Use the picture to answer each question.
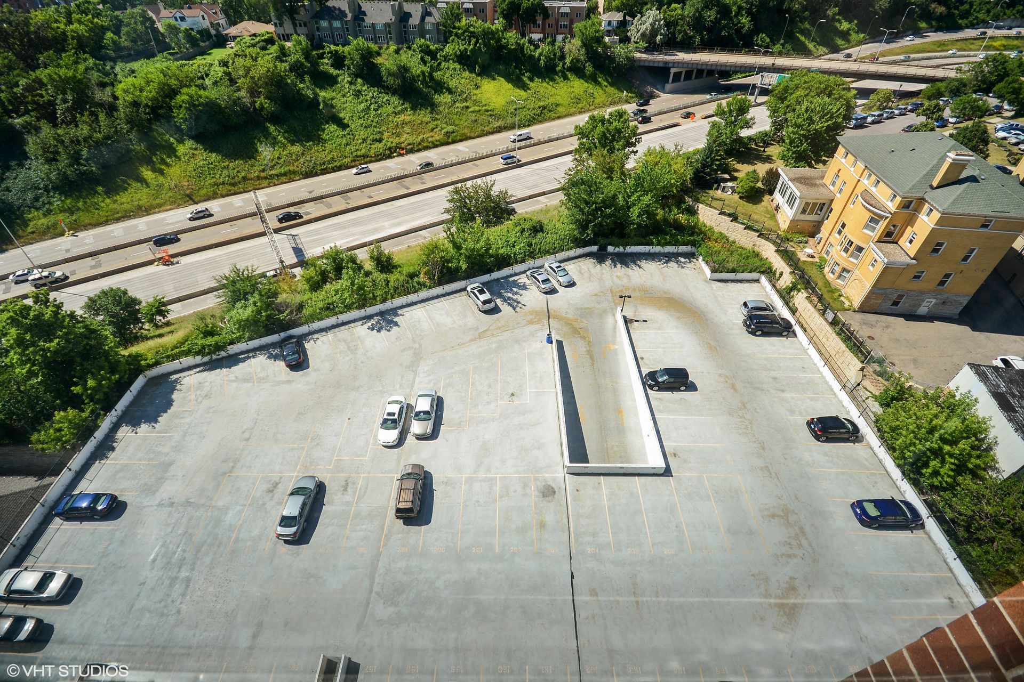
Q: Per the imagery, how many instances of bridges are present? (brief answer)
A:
1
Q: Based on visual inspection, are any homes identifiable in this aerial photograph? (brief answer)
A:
Yes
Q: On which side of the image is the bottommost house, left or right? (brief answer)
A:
left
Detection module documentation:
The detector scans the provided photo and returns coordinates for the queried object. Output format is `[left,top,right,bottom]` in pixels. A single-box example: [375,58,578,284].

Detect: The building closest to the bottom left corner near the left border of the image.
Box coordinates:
[0,477,58,552]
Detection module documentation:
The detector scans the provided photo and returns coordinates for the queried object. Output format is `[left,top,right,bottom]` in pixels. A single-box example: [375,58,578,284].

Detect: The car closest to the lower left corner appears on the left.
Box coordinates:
[0,611,51,648]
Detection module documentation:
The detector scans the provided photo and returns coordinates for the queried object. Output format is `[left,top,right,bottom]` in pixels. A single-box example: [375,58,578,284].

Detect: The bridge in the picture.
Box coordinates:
[627,37,964,87]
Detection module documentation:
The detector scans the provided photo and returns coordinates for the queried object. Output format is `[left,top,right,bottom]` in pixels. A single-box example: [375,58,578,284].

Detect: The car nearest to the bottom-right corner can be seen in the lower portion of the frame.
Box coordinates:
[846,496,931,532]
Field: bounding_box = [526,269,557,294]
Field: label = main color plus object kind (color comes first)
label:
gray car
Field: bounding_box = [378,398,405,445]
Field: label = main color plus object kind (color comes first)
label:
white car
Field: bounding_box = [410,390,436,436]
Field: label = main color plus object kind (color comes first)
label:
white car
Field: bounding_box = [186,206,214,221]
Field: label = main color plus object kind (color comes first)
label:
gray car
